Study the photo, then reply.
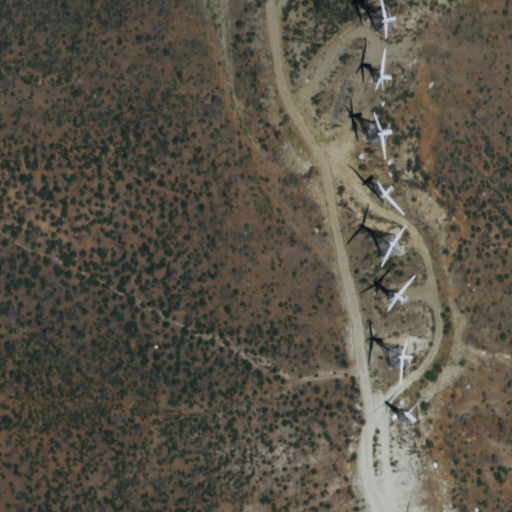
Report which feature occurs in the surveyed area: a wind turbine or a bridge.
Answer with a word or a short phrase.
wind turbine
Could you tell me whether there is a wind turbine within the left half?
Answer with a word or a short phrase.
No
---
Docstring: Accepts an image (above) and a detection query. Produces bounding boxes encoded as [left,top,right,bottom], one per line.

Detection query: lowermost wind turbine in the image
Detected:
[388,394,426,428]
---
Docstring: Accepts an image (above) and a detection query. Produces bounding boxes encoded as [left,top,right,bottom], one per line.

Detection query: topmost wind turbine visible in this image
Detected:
[370,0,397,40]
